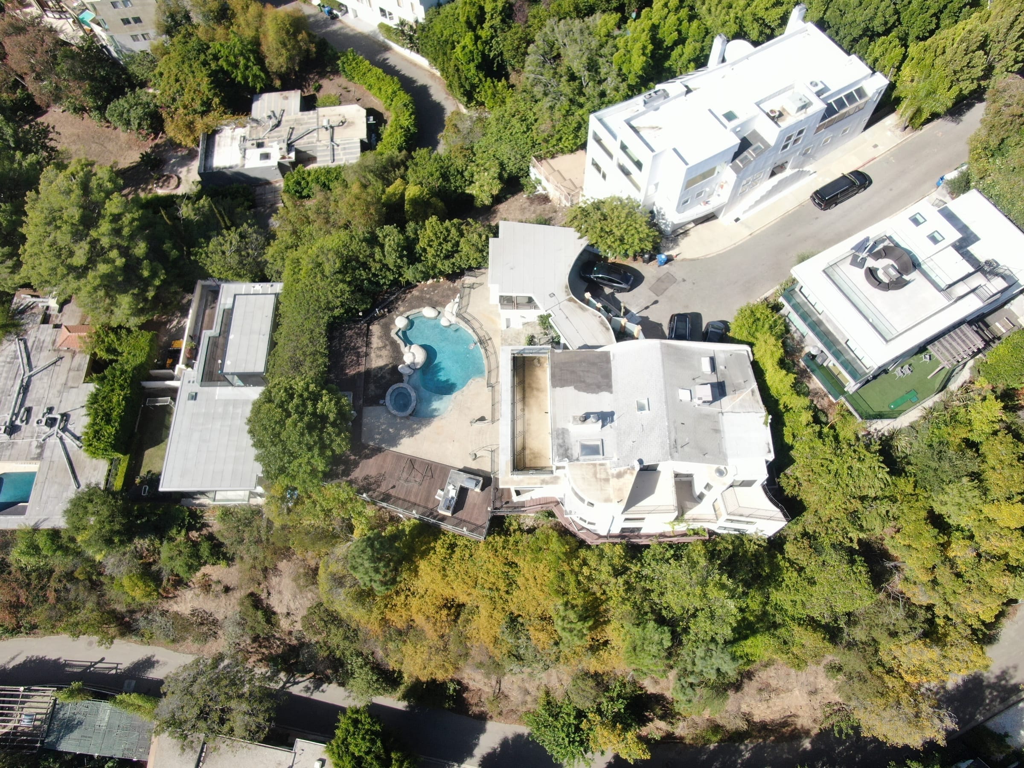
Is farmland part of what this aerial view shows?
No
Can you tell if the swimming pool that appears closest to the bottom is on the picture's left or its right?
left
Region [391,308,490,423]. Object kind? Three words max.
swimming pool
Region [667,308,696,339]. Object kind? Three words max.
car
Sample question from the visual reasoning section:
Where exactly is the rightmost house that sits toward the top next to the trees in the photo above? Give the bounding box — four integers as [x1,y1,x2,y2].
[776,189,1024,425]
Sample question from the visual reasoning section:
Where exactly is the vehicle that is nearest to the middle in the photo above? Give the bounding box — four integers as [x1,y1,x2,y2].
[579,260,634,293]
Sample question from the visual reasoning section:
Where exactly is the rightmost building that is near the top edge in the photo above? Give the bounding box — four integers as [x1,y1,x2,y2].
[584,4,889,248]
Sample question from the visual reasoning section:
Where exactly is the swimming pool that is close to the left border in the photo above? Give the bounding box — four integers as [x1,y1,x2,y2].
[0,467,37,516]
